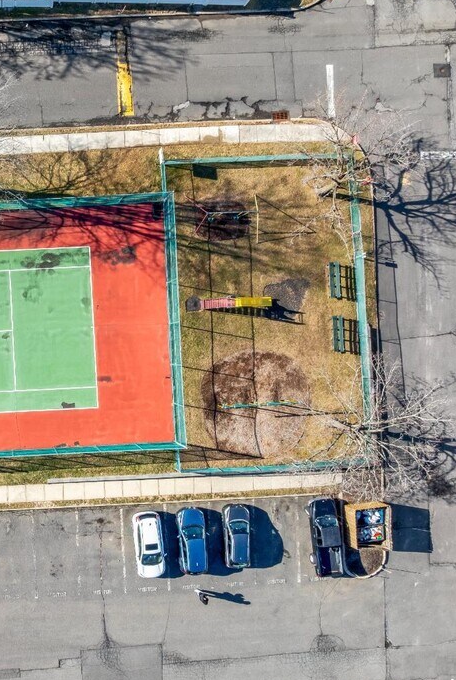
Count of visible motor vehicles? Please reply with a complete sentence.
The number of motor vehicles here is 4.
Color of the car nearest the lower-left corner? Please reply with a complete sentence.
The color of the car nearest the lower-left corner is white.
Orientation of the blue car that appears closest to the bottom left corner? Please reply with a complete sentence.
What the image shows is the blue car that appears closest to the bottom left corner lying up and down.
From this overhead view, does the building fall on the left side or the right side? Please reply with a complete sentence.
You can find the building on the right side of the picture.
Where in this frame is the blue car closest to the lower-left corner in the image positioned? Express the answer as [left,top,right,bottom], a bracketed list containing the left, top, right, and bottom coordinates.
[175,507,209,576]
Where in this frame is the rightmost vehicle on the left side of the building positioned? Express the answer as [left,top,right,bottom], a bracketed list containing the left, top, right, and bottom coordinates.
[307,497,348,578]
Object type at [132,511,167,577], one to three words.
car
